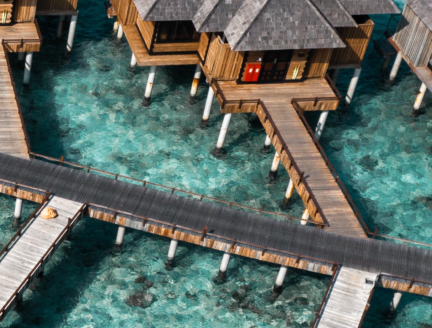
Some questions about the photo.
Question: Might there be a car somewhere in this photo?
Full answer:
No, this view has no car in it.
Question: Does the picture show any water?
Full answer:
Yes, water can be seen from above here.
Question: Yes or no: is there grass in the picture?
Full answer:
No, there's no grass in this view.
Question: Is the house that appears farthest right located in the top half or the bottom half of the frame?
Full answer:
The house that appears farthest right sits in the top half of the picture.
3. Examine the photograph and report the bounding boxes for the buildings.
[0,0,94,86]
[120,0,406,149]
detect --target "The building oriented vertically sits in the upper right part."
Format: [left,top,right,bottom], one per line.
[381,0,432,108]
